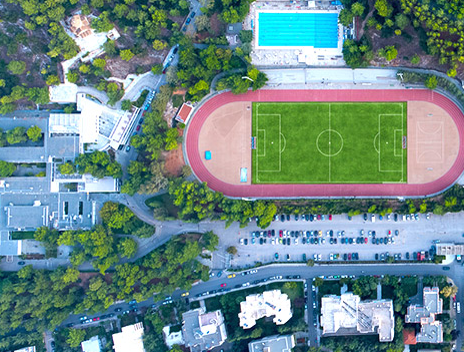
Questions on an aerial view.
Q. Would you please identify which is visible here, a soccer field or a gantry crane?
soccer field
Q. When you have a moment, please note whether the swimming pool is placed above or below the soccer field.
above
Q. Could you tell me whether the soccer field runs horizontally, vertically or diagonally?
horizontally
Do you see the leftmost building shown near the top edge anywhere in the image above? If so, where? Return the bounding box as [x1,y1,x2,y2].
[60,14,109,61]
